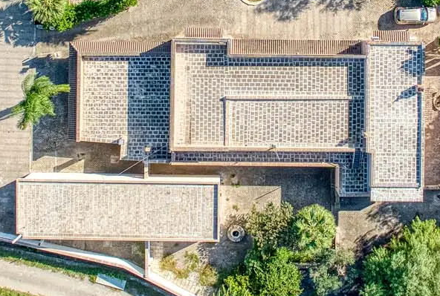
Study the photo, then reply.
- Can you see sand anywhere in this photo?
No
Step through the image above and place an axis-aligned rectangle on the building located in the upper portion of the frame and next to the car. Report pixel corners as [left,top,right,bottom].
[69,27,425,201]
